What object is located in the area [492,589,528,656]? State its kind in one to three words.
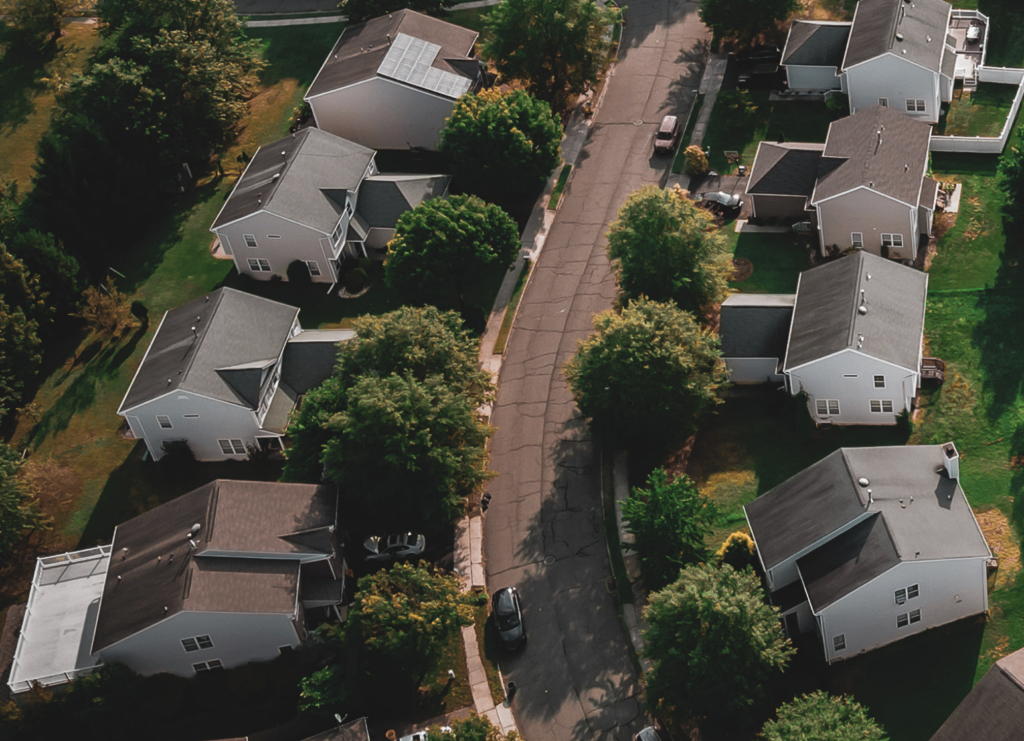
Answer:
car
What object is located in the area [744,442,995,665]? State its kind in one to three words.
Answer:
house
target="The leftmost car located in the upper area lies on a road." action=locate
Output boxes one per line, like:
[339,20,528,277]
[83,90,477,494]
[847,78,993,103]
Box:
[651,114,683,158]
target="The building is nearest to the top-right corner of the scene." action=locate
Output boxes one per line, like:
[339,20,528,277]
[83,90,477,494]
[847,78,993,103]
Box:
[780,0,961,122]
